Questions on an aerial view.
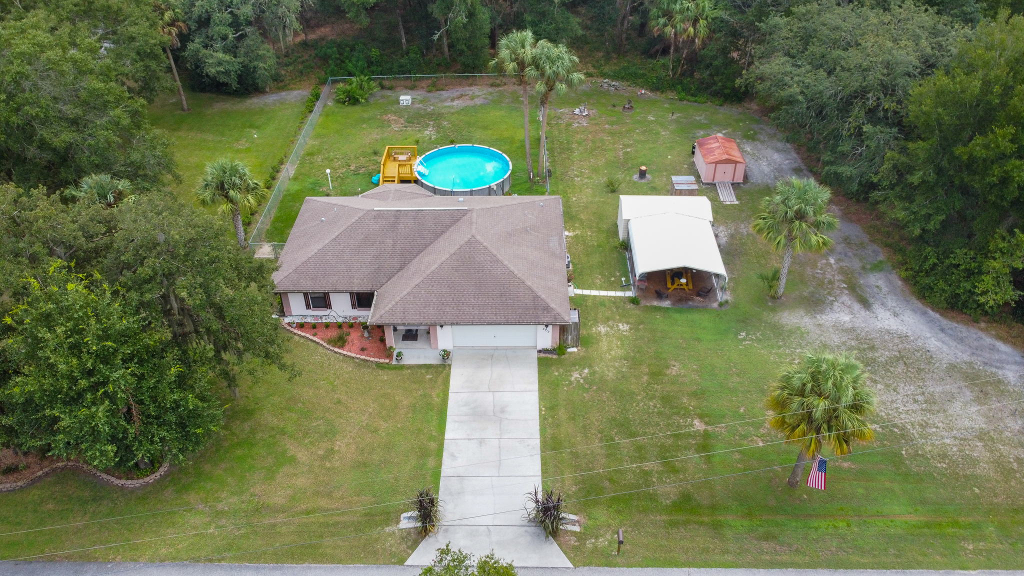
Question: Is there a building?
Yes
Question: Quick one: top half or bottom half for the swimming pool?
top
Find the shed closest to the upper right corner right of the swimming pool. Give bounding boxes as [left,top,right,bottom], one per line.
[695,132,748,183]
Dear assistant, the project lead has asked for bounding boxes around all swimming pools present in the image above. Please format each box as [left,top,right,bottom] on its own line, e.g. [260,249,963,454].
[415,144,512,195]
